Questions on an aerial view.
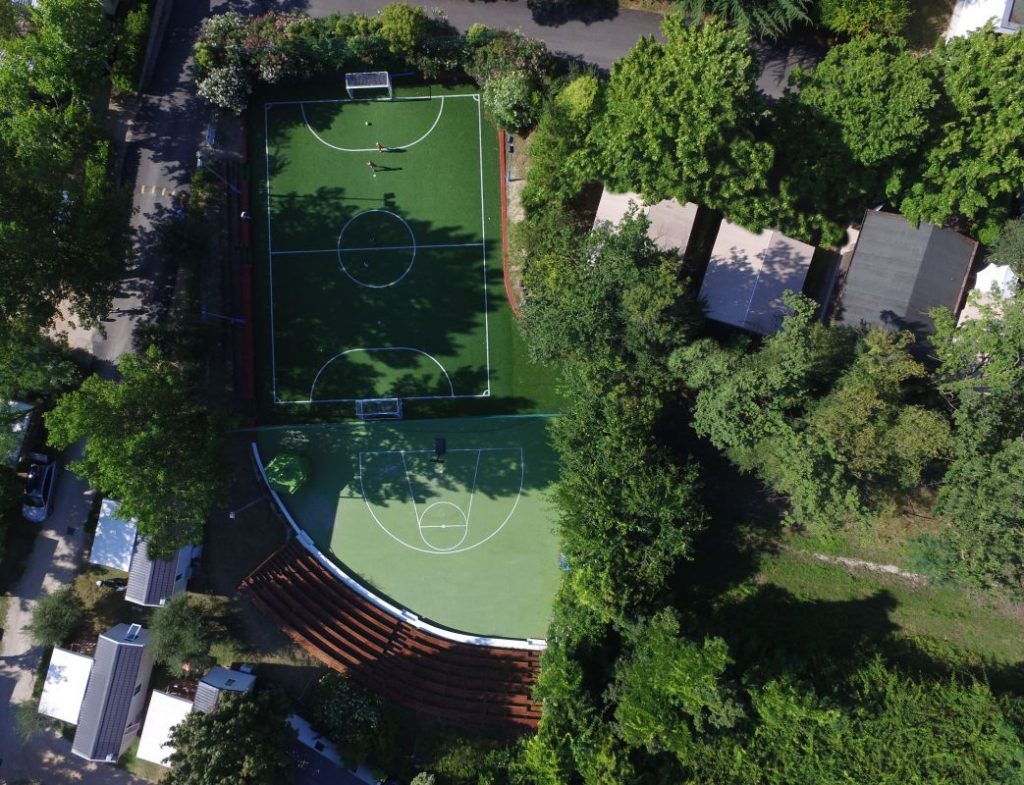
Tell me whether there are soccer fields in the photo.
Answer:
Yes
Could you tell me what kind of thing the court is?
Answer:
basketball court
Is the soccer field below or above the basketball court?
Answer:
above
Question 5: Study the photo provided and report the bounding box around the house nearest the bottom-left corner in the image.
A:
[71,625,159,763]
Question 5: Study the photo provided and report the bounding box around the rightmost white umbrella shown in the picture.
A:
[967,258,1019,305]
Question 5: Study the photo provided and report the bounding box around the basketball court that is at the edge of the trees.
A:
[254,416,569,638]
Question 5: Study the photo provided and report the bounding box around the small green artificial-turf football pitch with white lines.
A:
[251,72,574,431]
